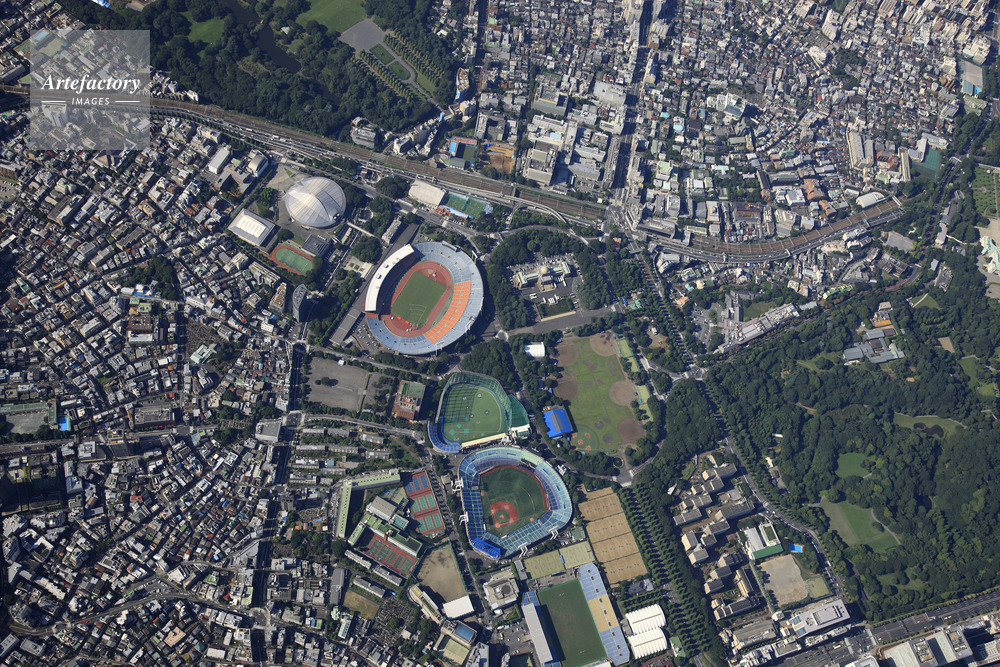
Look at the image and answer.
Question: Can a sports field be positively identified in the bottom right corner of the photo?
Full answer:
Yes, a sports field is visible in the bottom right corner of the photo.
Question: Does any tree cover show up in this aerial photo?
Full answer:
Yes, tree cover shows up in the scene.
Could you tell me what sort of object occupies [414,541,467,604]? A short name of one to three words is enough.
sports field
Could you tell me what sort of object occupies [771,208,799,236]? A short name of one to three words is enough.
building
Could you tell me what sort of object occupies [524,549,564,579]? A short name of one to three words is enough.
sports court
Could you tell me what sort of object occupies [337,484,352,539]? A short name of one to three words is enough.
building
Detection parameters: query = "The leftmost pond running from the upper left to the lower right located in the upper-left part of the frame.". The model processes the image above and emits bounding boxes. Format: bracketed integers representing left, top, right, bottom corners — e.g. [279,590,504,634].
[221,0,301,71]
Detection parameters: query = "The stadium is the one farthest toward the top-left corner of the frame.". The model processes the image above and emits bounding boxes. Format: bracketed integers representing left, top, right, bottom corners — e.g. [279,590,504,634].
[365,238,483,357]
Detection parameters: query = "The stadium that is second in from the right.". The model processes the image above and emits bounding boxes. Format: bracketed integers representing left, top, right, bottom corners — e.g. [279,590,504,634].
[460,445,573,559]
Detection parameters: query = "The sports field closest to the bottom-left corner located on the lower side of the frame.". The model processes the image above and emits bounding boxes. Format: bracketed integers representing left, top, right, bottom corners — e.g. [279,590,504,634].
[4,413,47,433]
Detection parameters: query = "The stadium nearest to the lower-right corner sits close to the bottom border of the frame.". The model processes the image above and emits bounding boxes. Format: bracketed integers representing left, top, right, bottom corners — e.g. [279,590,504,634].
[521,563,626,667]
